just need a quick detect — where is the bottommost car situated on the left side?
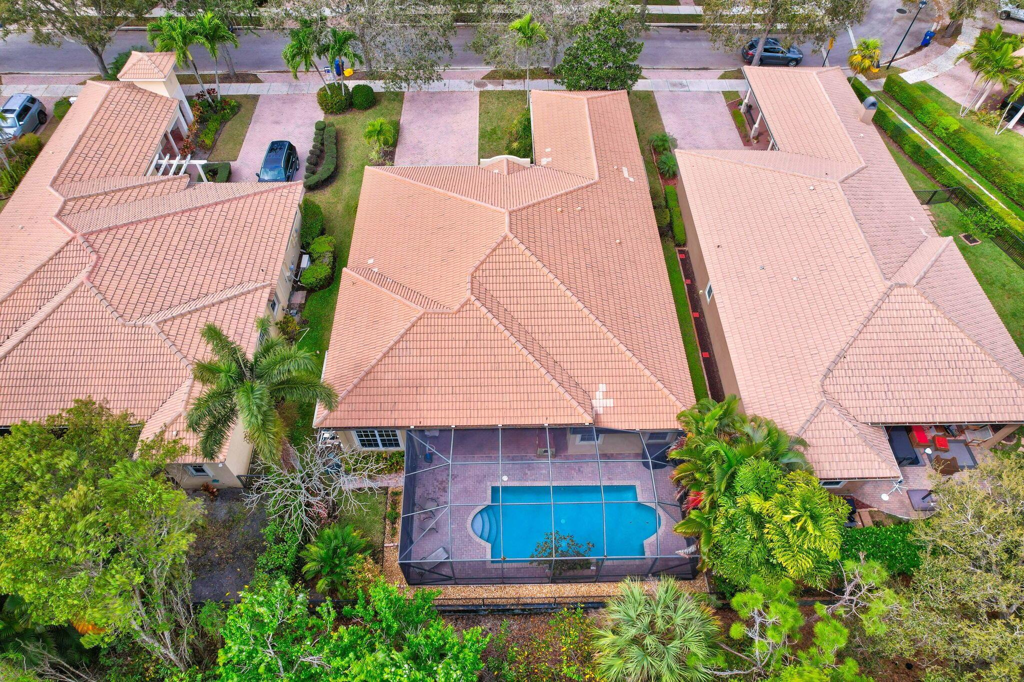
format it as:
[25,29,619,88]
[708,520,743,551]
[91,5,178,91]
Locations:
[247,136,297,182]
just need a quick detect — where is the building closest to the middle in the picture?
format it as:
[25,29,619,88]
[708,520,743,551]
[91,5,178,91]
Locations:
[309,88,703,454]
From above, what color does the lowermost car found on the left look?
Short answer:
blue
